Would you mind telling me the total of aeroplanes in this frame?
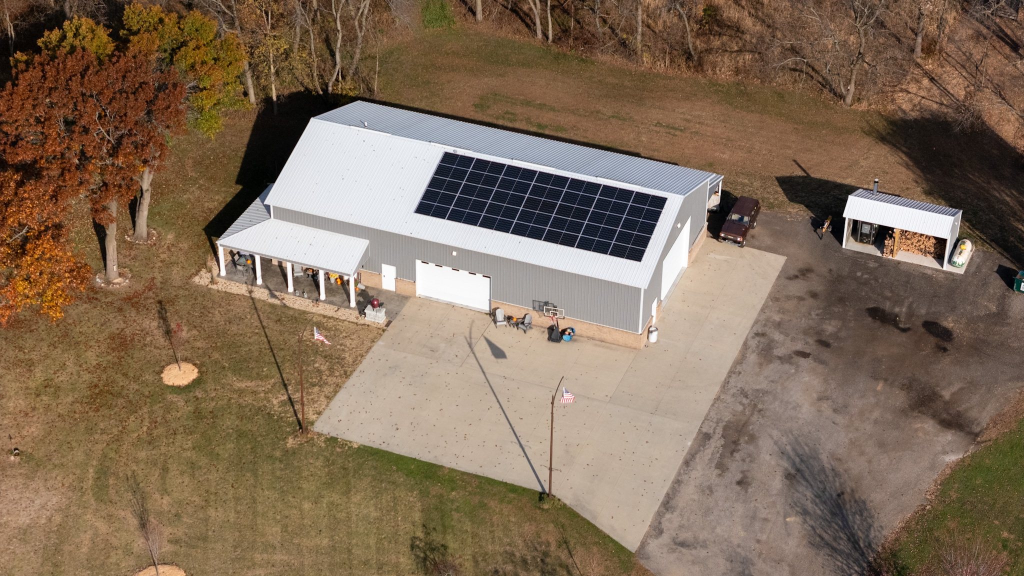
0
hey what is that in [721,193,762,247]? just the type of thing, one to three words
car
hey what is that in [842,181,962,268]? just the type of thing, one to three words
shed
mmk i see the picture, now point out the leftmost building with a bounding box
[213,102,724,350]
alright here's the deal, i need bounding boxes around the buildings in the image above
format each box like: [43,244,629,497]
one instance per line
[213,102,724,350]
[842,181,962,268]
